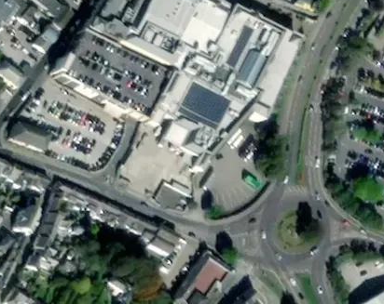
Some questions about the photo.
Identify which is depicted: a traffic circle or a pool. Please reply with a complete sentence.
Of the two, only a traffic circle appears.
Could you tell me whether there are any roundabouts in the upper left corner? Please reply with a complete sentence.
No, no roundabout appears in the upper left corner.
